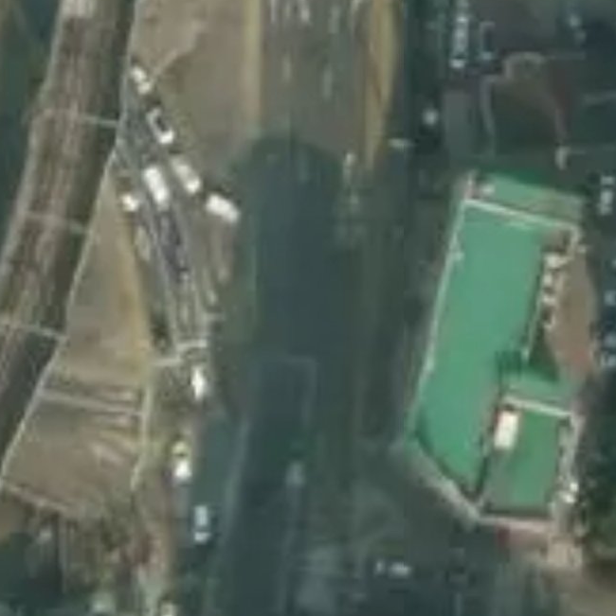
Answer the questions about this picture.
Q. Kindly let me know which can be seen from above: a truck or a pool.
truck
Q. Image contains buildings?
Yes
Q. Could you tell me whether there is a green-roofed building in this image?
Yes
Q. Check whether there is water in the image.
No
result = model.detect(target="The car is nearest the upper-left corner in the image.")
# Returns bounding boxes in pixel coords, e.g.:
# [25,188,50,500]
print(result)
[132,60,156,97]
